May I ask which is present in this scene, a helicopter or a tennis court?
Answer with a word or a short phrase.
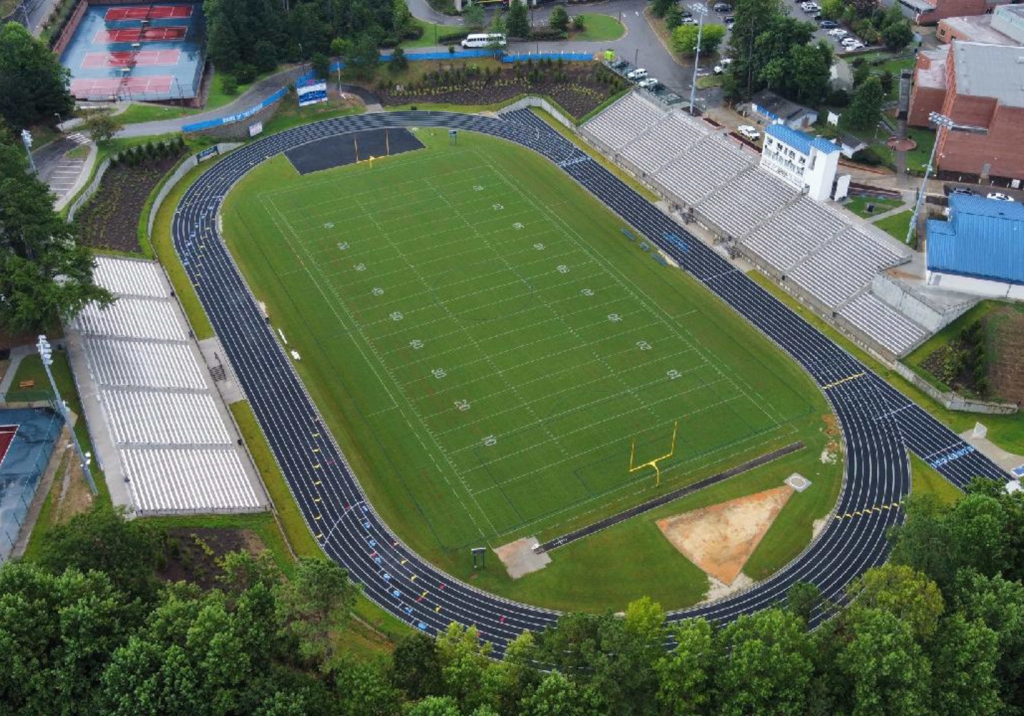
tennis court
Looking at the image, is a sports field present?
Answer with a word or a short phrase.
Yes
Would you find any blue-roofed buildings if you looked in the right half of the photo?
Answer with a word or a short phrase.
Yes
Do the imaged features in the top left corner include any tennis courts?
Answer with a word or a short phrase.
Yes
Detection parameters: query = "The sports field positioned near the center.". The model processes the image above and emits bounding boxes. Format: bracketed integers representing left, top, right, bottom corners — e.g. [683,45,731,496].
[246,142,813,563]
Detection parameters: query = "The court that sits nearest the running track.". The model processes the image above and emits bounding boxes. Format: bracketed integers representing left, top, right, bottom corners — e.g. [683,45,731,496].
[46,3,207,109]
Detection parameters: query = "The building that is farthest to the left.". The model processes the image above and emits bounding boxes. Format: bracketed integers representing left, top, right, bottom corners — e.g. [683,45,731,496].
[752,90,817,135]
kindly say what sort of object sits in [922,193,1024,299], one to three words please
building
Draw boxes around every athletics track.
[171,107,1024,680]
